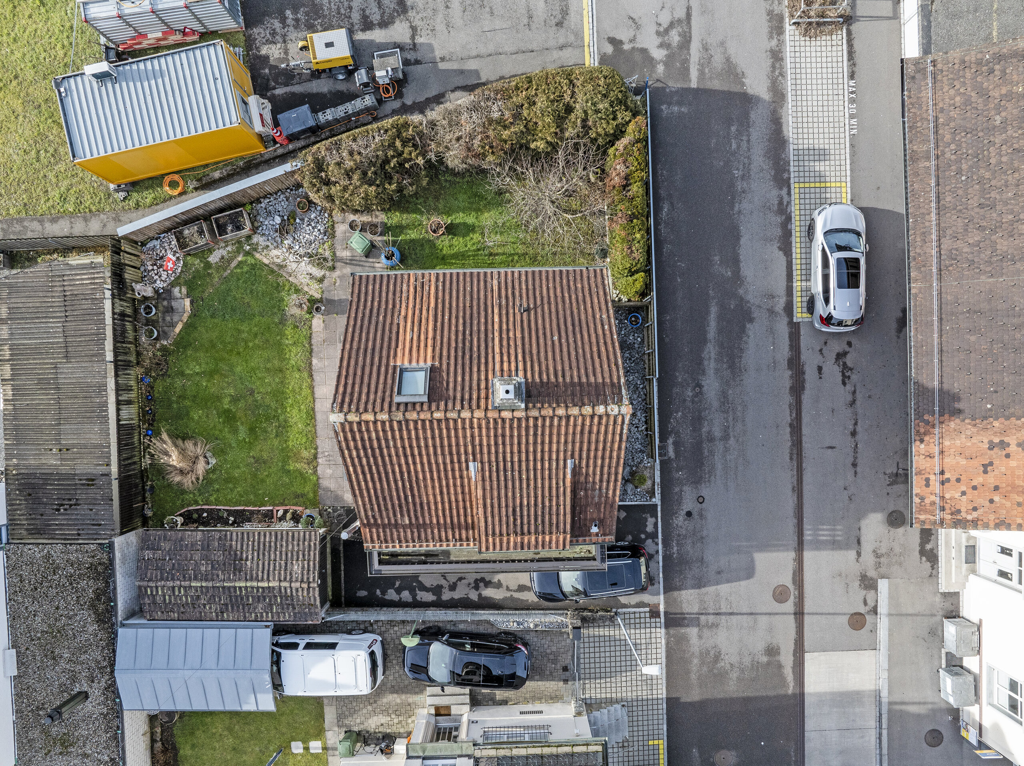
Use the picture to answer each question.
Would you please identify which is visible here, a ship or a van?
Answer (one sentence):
It is a van that can be seen here.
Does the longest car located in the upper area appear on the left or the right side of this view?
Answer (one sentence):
The longest car located in the upper area sits on the right side.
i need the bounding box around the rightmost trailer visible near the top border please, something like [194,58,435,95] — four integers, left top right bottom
[289,29,359,79]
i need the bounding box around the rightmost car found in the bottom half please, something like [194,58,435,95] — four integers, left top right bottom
[527,536,655,610]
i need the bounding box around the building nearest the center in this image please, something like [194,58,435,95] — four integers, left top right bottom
[327,263,634,577]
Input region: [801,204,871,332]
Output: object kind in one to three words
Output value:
car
